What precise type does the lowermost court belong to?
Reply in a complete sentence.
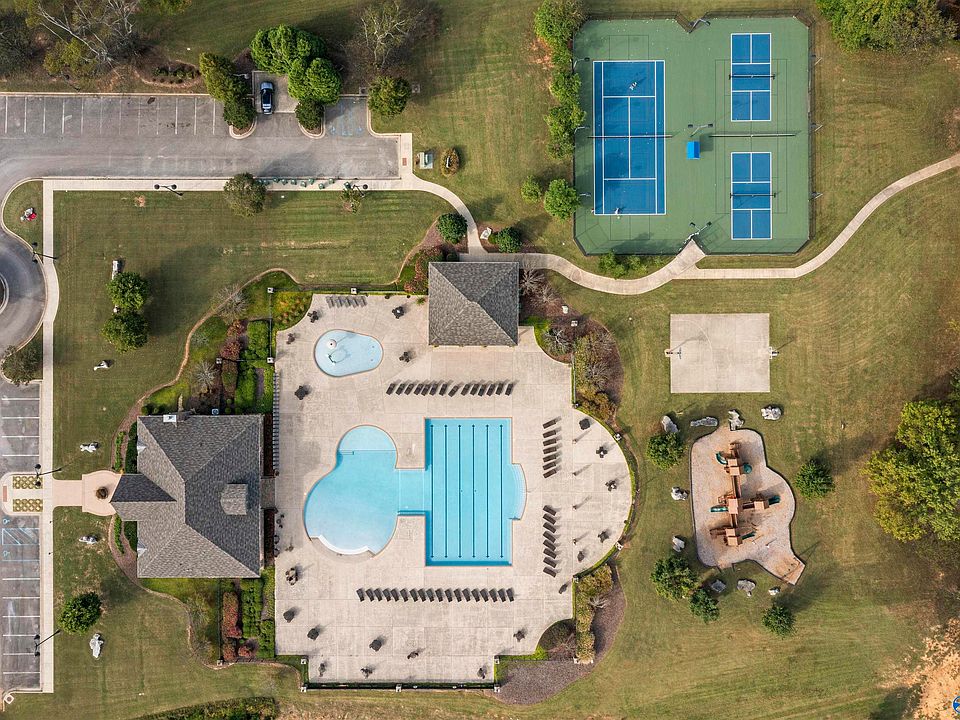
It looks like the lowermost court is a basketball court.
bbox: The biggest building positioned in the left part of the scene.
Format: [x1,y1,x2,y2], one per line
[110,413,264,578]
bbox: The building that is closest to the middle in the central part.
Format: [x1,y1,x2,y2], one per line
[428,262,520,348]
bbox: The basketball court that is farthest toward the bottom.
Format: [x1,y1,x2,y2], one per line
[670,314,771,392]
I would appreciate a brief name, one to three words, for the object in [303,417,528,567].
swimming pool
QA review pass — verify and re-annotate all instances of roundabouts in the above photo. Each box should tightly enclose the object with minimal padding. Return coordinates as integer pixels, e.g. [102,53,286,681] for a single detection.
[0,233,44,351]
